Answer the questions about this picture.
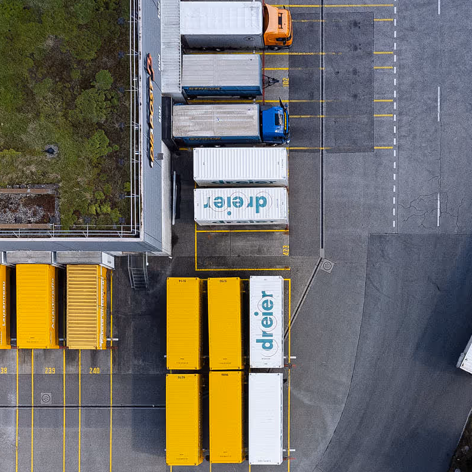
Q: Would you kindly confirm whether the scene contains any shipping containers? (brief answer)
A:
Yes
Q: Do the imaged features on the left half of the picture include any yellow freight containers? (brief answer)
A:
Yes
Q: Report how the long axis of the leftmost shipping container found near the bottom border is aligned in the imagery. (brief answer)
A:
up and down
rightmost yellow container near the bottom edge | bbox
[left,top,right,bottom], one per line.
[210,371,248,463]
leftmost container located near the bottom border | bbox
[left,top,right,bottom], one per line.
[166,373,206,465]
